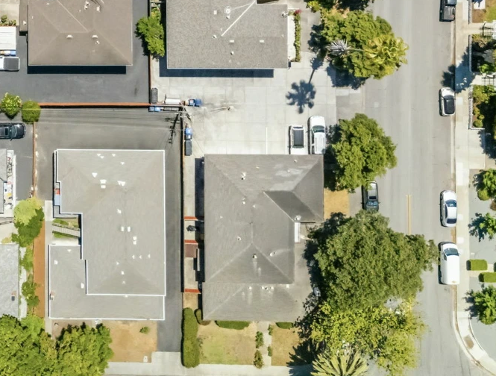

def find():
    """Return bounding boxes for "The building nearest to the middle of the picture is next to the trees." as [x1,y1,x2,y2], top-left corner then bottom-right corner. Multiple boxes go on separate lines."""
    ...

[201,151,324,321]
